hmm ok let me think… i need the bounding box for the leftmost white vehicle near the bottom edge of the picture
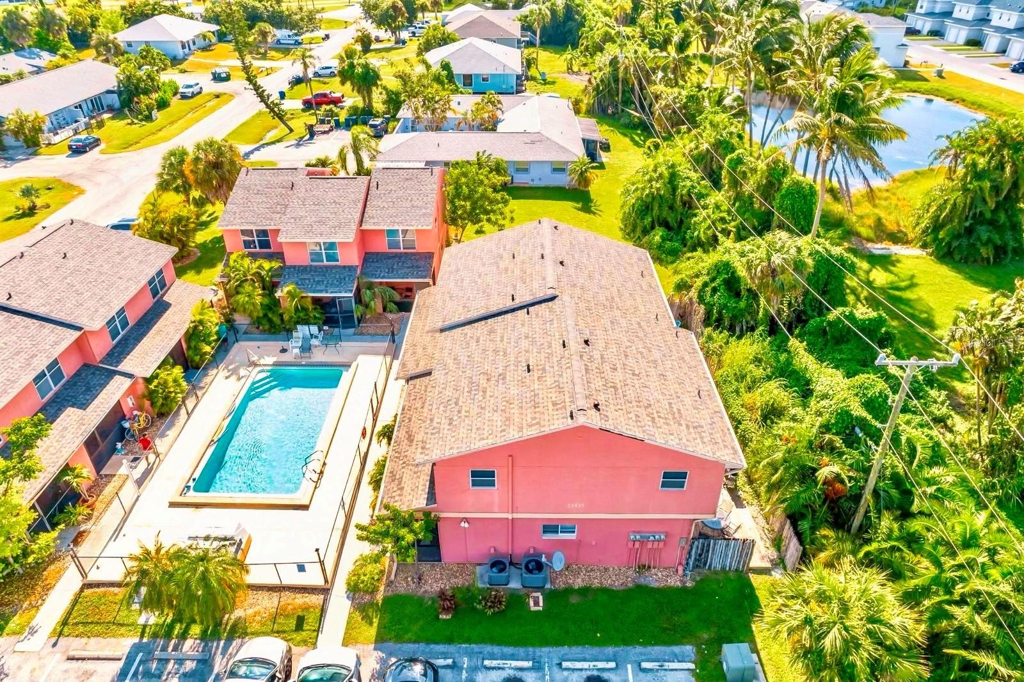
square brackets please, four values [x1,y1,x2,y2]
[206,639,291,682]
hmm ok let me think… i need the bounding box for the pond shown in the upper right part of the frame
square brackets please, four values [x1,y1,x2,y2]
[747,92,986,194]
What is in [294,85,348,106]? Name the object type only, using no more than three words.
truck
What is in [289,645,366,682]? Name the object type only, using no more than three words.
car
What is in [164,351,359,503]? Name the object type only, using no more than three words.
swimming pool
